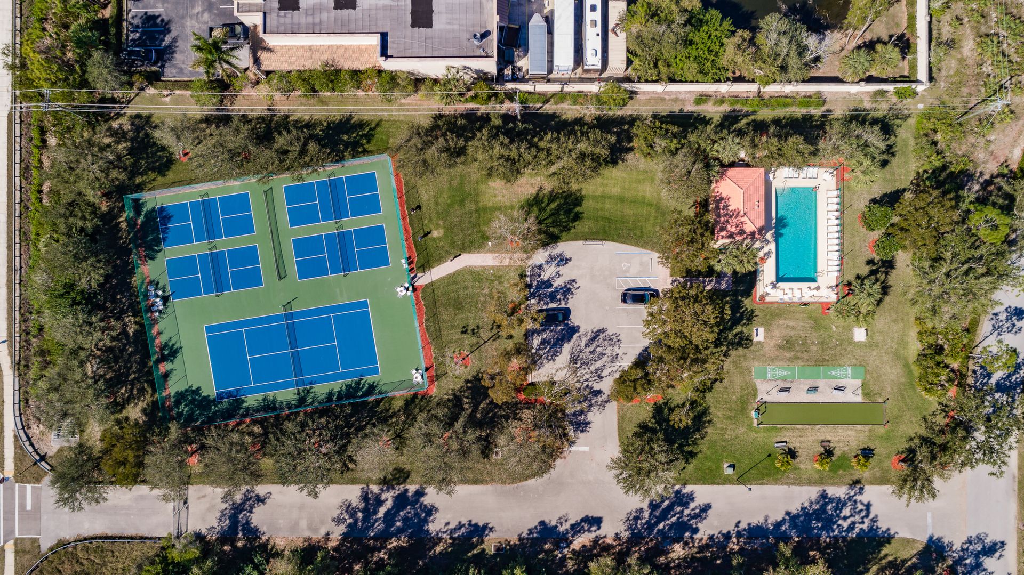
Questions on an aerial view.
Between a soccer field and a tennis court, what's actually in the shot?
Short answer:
tennis court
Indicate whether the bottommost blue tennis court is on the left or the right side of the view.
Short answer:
left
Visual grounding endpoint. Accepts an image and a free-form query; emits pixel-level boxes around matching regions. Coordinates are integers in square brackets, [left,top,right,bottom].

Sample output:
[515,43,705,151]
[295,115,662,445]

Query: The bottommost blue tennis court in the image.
[205,299,380,400]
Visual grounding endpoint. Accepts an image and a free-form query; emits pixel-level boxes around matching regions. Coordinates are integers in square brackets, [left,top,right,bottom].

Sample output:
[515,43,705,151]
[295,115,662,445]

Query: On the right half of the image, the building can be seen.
[712,167,767,240]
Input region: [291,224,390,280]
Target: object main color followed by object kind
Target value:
blue sports court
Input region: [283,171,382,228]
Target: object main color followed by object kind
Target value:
blue sports court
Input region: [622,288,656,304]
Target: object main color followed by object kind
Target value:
black car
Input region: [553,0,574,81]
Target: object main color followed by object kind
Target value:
white trailer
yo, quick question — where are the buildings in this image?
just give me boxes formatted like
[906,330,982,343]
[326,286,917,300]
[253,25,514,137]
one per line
[234,0,508,77]
[712,167,767,240]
